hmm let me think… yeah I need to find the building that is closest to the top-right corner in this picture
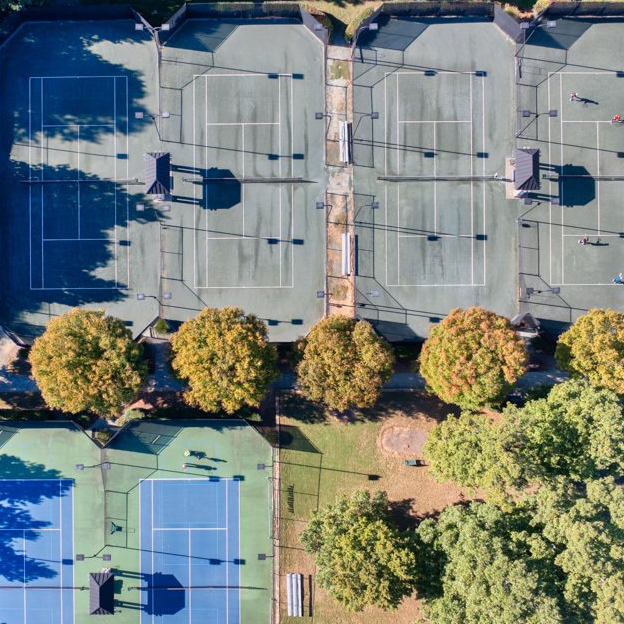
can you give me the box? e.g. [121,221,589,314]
[505,148,541,200]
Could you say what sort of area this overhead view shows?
sports ground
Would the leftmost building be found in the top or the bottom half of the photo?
bottom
